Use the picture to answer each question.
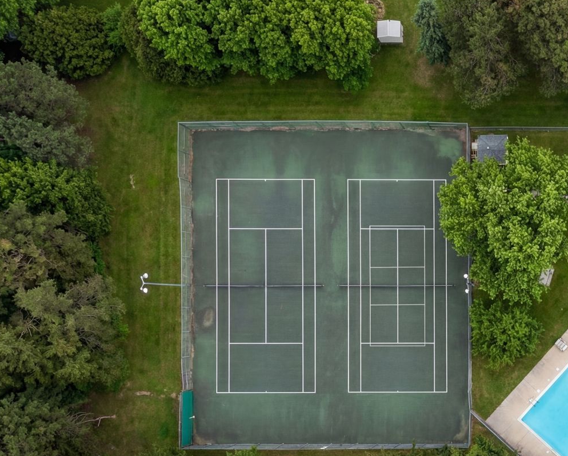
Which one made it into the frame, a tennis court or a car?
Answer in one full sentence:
The one in the frame is a tennis court.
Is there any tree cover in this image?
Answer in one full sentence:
Yes, there's tree cover in this view.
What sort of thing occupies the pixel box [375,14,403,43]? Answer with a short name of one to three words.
shed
